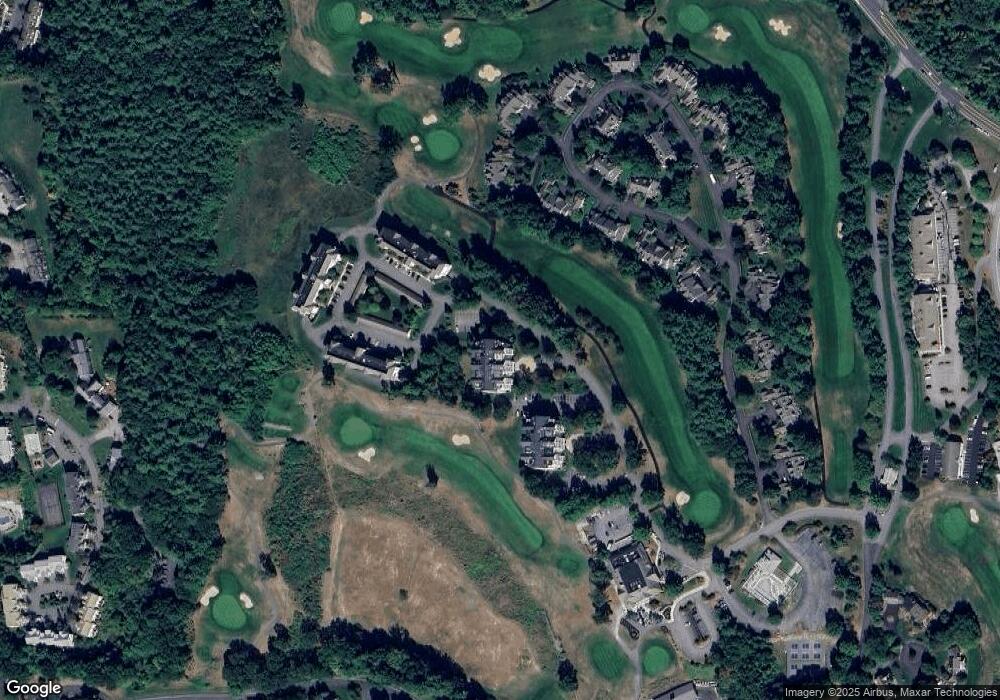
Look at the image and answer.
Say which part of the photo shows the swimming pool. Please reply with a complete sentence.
The swimming pool is located in the bottom left region of the scene.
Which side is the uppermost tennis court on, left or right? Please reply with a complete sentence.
The uppermost tennis court is on the left side of the image.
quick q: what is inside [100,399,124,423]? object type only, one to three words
barn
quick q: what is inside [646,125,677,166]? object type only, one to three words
house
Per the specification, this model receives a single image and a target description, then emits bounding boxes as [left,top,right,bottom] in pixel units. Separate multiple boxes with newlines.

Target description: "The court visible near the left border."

[37,482,62,526]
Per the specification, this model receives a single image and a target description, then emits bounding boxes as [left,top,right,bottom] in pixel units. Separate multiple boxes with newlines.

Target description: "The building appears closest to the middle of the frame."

[469,338,513,394]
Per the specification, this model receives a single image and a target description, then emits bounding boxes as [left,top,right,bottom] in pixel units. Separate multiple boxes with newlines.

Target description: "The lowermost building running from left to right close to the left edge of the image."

[23,629,77,648]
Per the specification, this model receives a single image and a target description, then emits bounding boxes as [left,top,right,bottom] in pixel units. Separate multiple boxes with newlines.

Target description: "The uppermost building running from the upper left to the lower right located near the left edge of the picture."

[0,168,30,211]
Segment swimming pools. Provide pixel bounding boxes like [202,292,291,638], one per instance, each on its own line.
[0,499,22,536]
